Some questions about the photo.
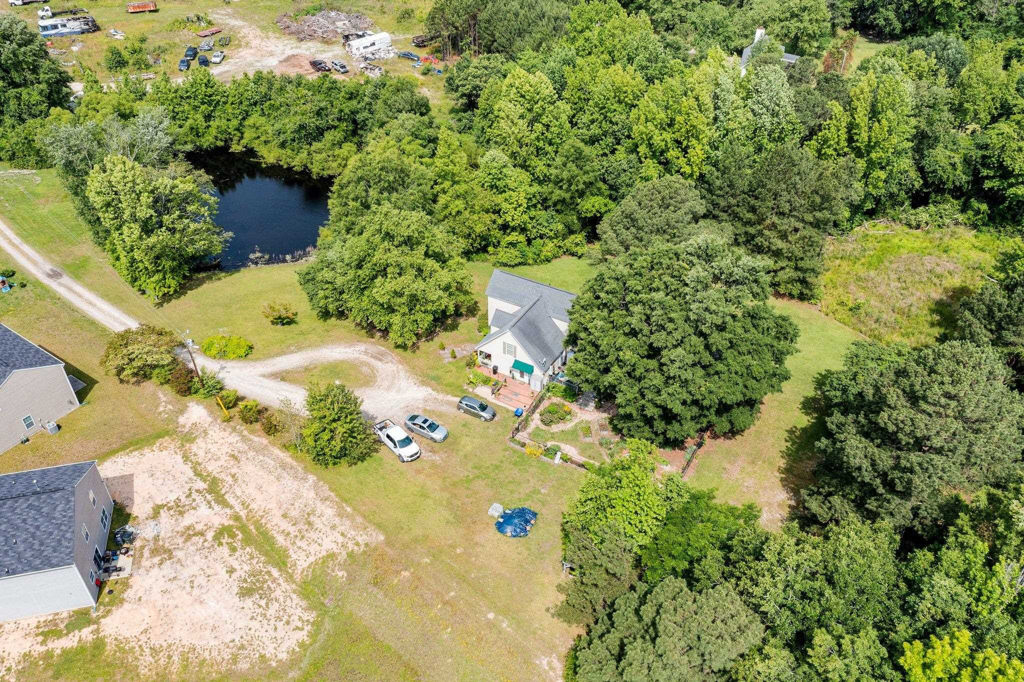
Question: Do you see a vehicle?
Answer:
Yes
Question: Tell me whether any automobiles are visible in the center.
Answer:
Yes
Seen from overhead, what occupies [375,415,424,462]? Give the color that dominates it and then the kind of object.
white truck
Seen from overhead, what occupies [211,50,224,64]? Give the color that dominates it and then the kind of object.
white vehicle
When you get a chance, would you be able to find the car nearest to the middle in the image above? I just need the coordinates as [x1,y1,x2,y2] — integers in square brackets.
[455,391,498,420]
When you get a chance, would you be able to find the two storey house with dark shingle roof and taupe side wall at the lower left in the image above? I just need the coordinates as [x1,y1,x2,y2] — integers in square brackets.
[0,460,114,624]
